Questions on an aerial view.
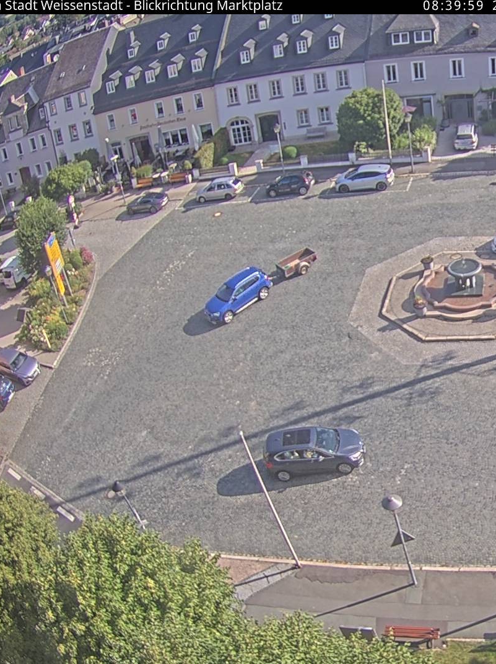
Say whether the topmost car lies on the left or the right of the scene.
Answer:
right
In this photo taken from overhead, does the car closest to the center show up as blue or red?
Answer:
blue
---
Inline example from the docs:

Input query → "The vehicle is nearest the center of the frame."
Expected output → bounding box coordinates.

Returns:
[200,266,273,326]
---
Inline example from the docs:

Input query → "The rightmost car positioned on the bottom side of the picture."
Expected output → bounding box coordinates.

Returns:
[258,424,367,483]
